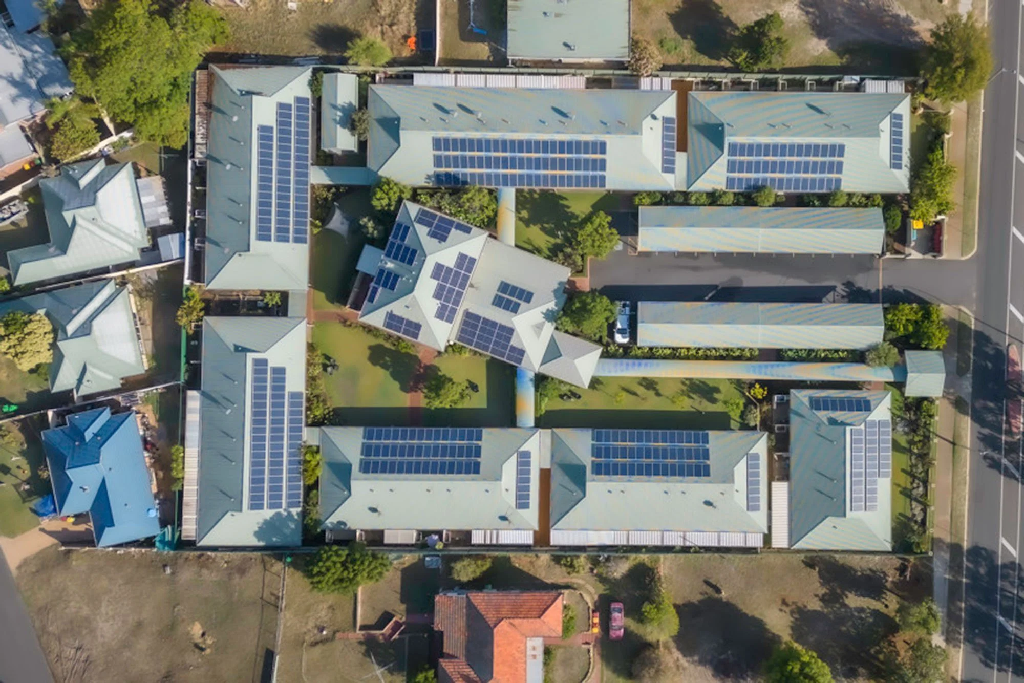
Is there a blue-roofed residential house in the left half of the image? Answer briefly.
Yes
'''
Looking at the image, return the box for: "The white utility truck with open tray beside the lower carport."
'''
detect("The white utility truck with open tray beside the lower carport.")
[614,301,632,343]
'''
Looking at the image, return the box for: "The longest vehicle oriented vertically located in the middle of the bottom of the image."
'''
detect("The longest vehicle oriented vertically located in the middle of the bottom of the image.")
[609,602,626,640]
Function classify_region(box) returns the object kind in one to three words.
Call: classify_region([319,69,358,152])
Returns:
shed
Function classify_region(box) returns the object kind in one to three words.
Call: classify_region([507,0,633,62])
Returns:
house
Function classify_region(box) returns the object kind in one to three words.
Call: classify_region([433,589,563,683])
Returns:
house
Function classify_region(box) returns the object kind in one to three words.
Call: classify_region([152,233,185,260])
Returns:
shed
